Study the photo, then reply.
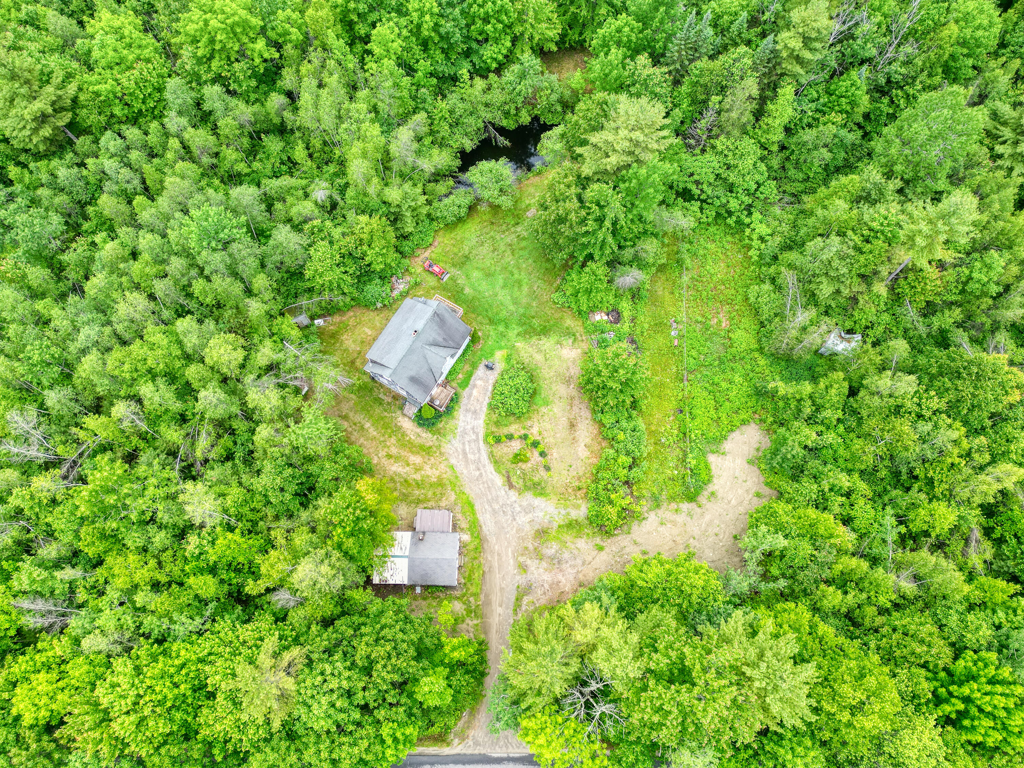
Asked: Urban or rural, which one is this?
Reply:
rural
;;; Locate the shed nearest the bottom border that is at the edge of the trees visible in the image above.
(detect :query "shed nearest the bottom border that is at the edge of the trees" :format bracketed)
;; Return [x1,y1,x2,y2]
[370,511,468,587]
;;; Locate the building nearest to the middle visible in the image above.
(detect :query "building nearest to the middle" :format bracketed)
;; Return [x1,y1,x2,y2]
[362,294,473,421]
